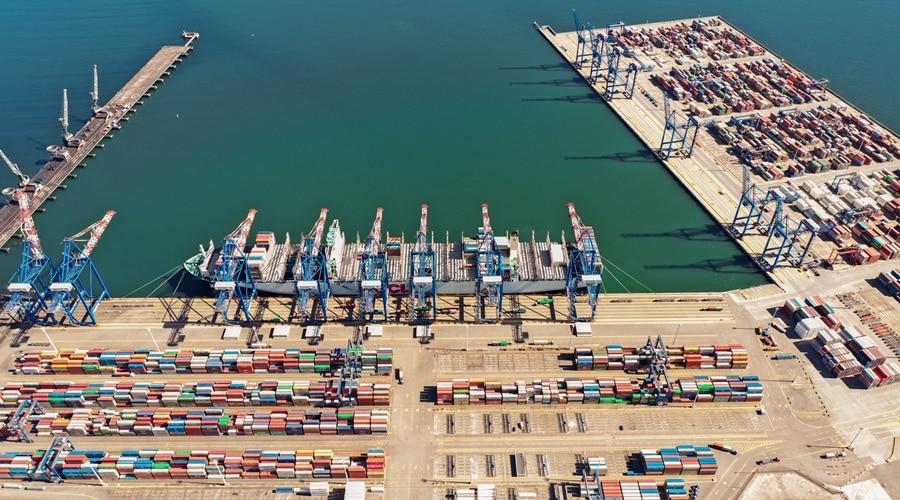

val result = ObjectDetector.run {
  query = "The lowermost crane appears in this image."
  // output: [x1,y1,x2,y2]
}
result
[577,465,605,500]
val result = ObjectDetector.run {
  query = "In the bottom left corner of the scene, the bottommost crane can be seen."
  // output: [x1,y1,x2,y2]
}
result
[34,437,78,485]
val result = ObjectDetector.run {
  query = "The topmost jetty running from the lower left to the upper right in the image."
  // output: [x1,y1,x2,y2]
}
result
[0,34,203,251]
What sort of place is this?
port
